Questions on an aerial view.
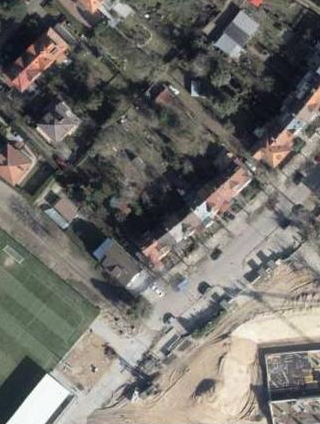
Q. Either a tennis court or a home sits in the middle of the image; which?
home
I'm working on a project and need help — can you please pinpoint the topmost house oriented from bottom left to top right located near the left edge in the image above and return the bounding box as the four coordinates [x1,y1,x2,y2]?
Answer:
[6,30,71,92]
